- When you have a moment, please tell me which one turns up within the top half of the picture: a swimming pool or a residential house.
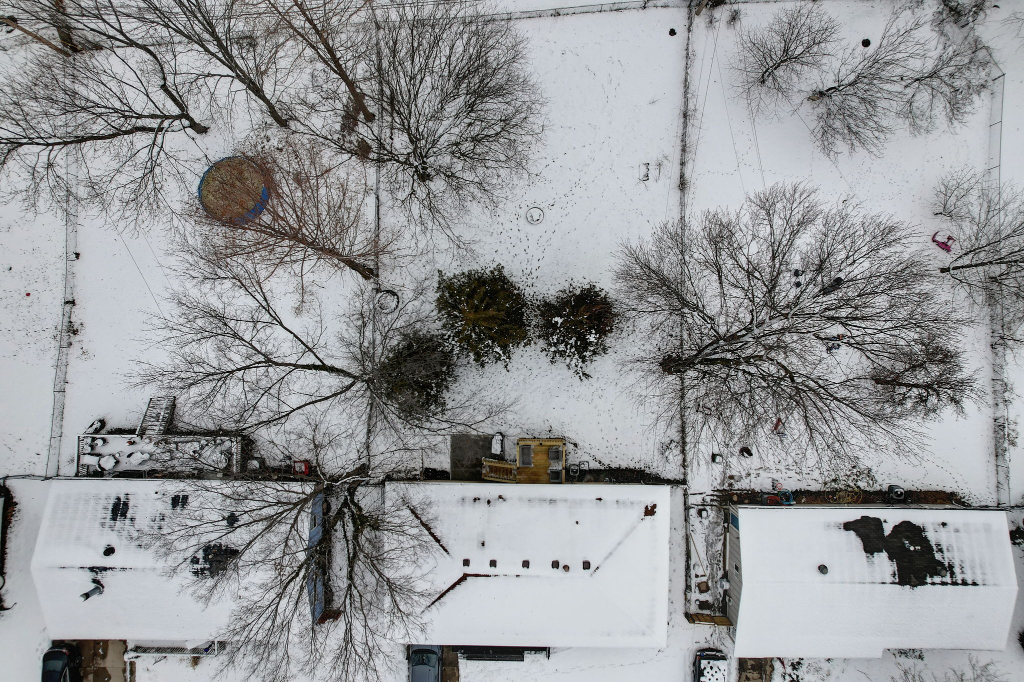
swimming pool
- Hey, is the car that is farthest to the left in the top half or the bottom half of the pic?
bottom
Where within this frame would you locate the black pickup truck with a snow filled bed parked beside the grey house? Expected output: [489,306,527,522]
[692,647,728,682]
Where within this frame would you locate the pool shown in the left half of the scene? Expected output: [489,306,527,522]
[198,155,276,228]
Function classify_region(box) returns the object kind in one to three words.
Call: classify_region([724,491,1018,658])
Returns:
house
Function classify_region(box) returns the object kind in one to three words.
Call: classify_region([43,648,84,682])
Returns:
car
